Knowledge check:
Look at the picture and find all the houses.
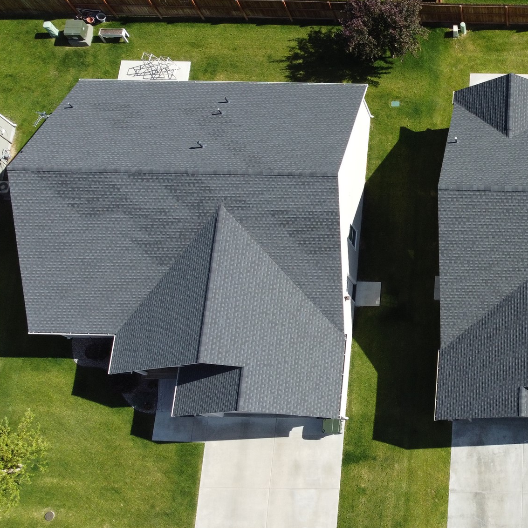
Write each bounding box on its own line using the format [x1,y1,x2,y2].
[430,73,528,422]
[0,111,17,181]
[8,77,381,422]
